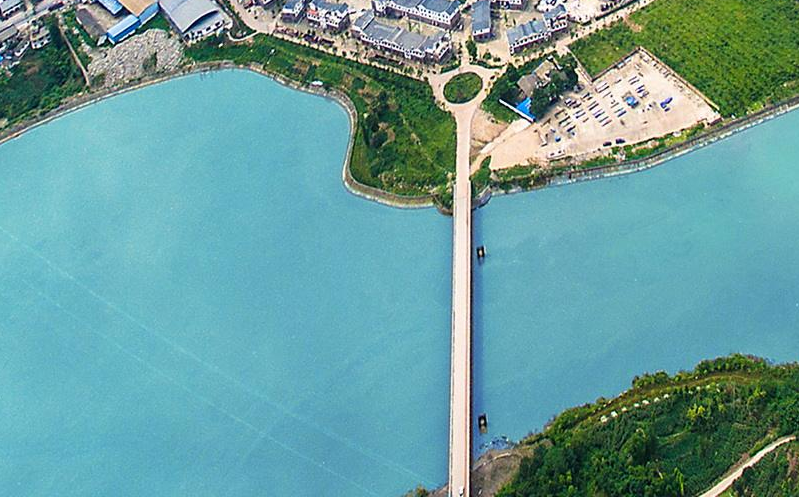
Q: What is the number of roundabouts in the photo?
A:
1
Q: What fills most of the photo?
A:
water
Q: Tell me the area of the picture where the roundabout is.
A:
top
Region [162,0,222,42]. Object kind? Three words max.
building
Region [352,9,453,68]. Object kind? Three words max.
house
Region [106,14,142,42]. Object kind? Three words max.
building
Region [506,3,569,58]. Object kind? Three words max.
house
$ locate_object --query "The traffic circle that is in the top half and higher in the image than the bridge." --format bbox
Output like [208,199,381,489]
[432,65,492,123]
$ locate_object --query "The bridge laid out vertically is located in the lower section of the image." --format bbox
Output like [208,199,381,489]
[449,171,472,497]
